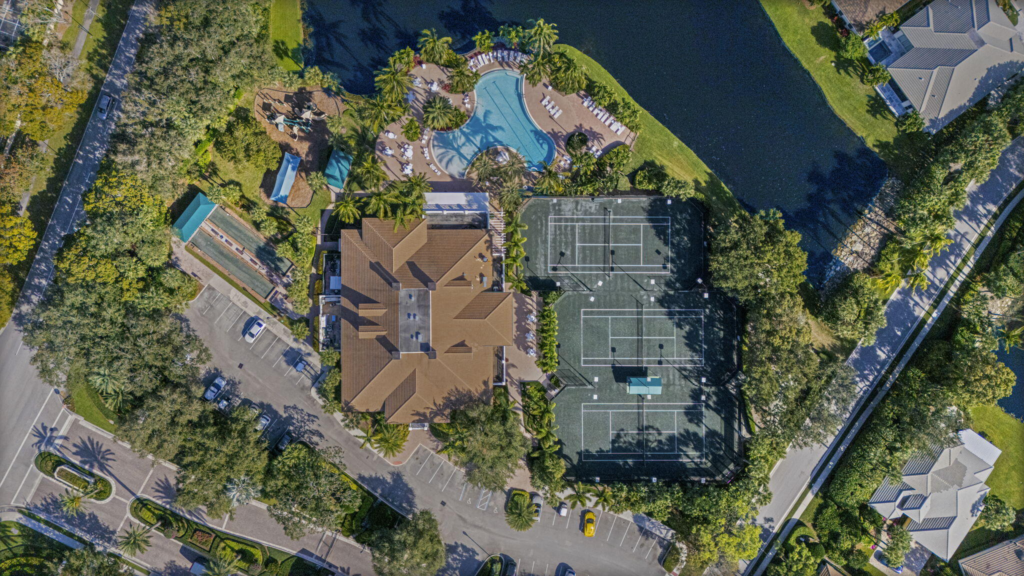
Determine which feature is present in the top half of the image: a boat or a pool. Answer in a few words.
pool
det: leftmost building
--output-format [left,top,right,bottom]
[175,192,219,243]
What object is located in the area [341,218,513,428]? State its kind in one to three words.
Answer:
building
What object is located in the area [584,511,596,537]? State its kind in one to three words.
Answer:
vehicle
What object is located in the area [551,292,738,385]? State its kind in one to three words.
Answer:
tennis court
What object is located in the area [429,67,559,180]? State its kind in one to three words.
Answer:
swimming pool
